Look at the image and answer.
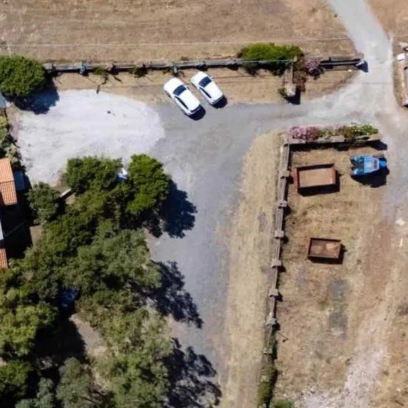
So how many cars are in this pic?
2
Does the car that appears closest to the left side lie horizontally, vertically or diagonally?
diagonally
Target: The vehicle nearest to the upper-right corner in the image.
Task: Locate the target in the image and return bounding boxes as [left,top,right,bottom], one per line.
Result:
[344,156,386,178]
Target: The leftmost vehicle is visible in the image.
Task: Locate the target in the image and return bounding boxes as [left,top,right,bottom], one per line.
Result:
[163,76,202,119]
